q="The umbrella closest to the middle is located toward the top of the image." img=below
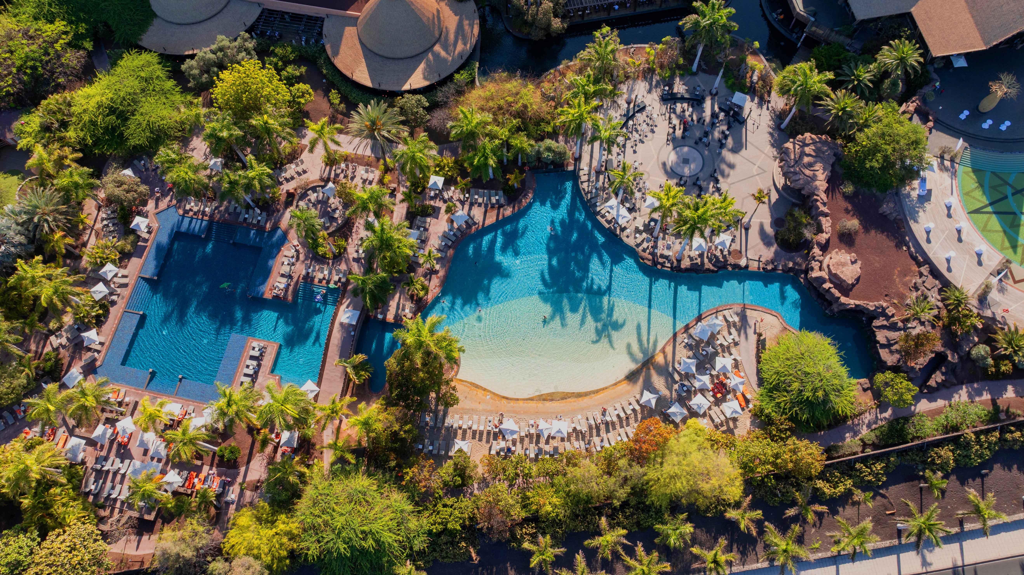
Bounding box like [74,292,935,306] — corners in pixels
[449,208,471,229]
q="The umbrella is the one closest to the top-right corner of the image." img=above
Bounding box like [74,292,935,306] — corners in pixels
[946,55,968,75]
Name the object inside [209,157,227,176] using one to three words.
umbrella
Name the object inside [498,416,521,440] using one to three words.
umbrella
